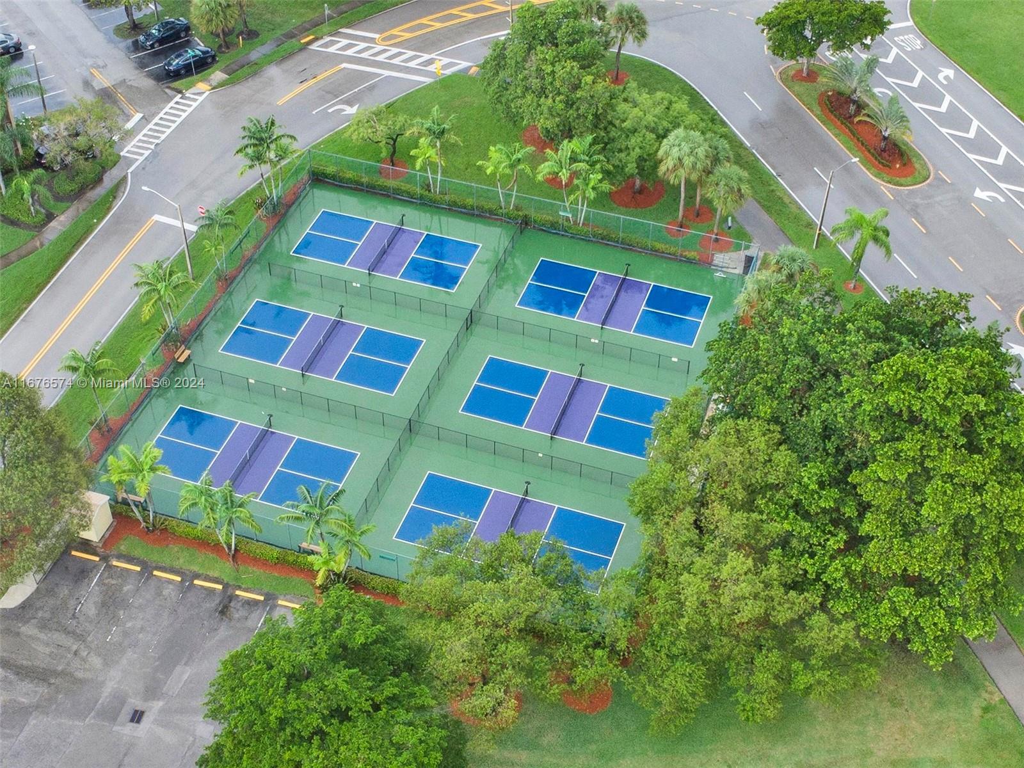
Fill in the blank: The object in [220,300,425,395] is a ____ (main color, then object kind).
blue sports court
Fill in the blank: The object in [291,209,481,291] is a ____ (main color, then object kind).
blue sports court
